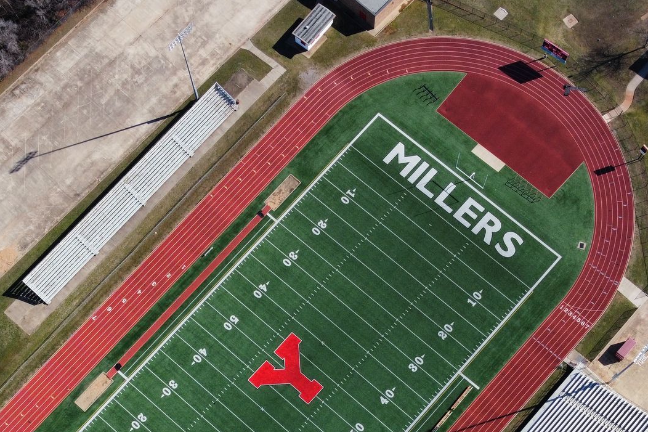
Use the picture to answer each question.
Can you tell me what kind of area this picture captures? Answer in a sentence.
This looks like a sports ground.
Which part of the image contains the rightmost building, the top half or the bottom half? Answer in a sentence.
You can find the rightmost building in the top half.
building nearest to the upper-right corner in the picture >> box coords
[352,0,403,28]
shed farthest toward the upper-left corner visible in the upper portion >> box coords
[291,3,336,49]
